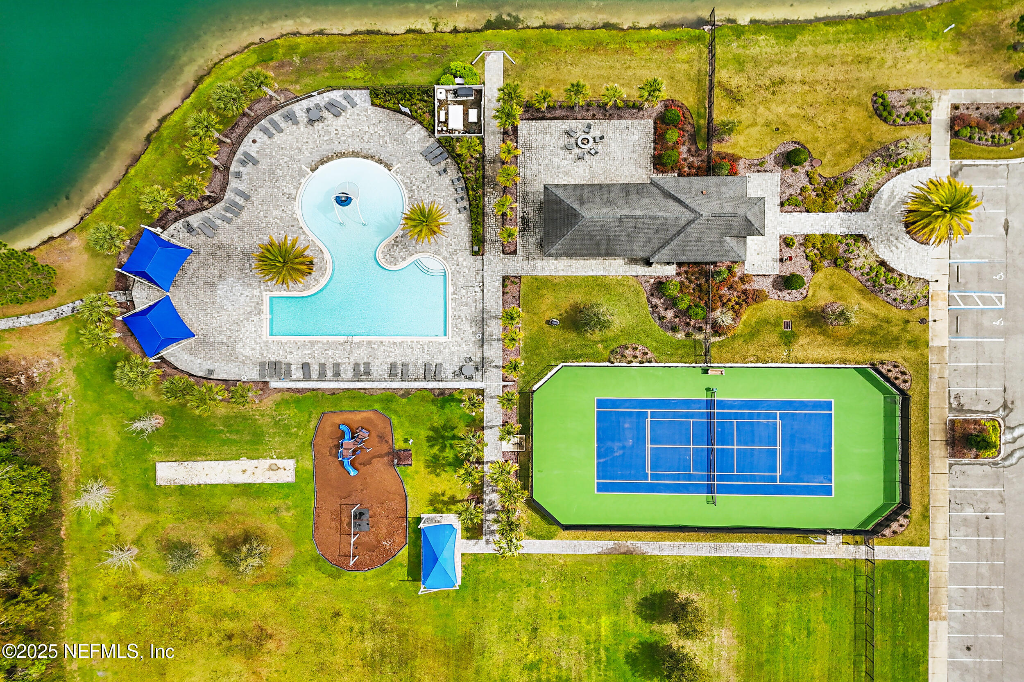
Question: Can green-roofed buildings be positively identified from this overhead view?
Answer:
No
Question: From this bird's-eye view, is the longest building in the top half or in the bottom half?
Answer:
top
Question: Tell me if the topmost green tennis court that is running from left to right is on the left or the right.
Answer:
right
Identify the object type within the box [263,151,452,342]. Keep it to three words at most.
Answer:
swimming pool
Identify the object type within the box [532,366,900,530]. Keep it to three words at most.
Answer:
tennis court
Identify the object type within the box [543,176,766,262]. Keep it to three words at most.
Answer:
building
